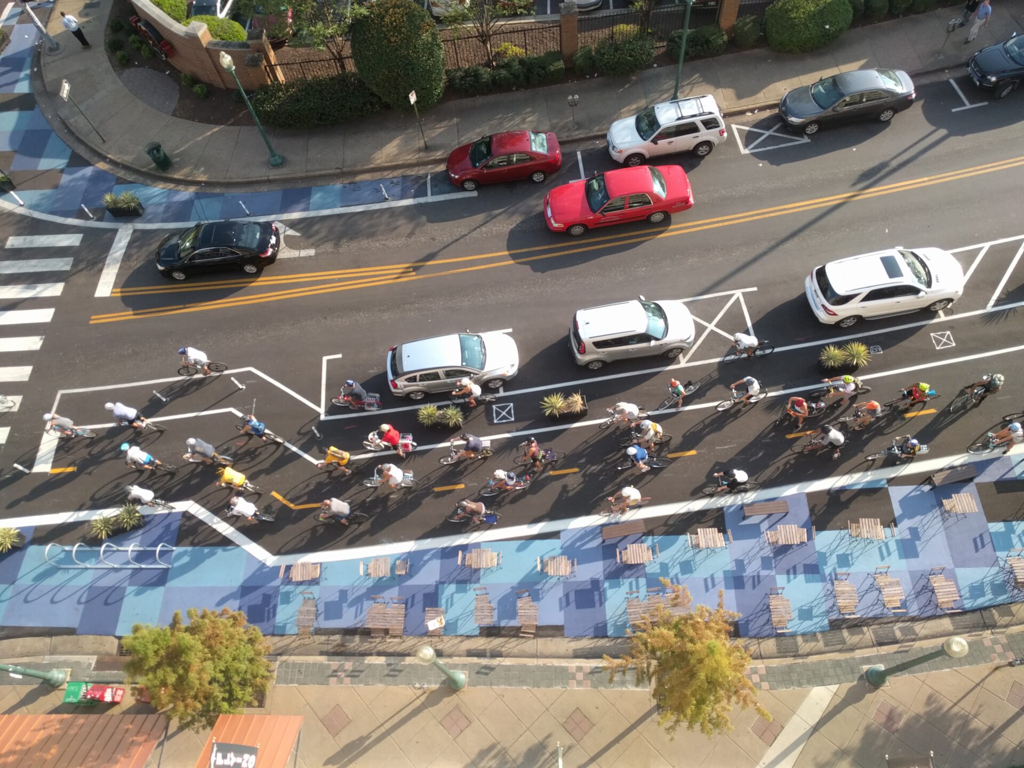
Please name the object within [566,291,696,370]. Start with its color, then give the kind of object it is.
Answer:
white car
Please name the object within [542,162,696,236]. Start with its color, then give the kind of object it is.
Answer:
red car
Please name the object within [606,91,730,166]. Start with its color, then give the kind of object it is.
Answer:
white car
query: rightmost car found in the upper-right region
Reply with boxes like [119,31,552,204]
[966,33,1024,99]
